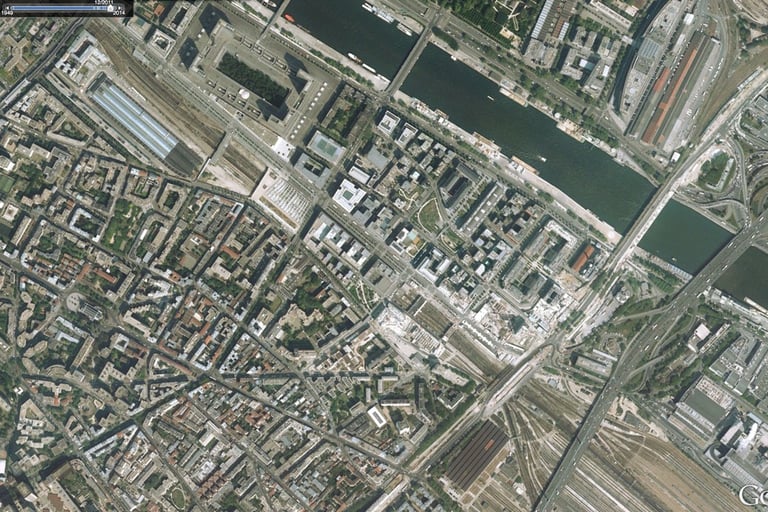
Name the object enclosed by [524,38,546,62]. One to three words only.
building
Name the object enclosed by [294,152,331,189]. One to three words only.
building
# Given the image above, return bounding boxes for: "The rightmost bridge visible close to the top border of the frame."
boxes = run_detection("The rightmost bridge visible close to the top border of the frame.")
[383,18,440,106]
